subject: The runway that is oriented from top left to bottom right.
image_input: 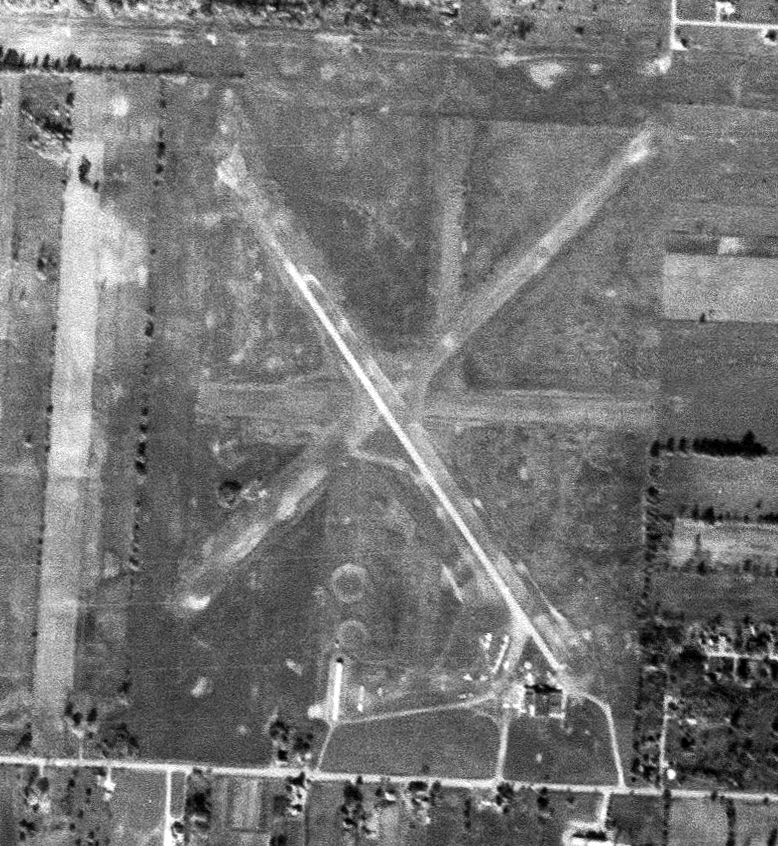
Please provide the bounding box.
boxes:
[281,256,563,672]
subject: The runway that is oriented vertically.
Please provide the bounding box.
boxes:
[434,119,468,334]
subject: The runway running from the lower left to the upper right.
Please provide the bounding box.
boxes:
[184,137,656,610]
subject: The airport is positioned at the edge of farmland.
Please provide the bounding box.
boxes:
[140,84,656,785]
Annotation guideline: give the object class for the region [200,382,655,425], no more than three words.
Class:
runway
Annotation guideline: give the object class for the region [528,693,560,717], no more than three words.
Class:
hangar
